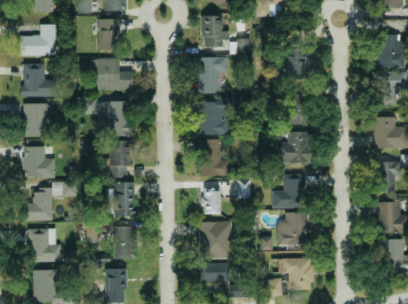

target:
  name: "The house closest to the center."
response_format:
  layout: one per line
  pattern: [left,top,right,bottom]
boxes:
[202,140,229,176]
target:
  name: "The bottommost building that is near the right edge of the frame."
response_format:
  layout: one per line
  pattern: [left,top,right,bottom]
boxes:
[388,240,408,266]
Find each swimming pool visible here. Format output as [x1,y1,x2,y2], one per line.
[262,212,280,229]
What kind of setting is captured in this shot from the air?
residential area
